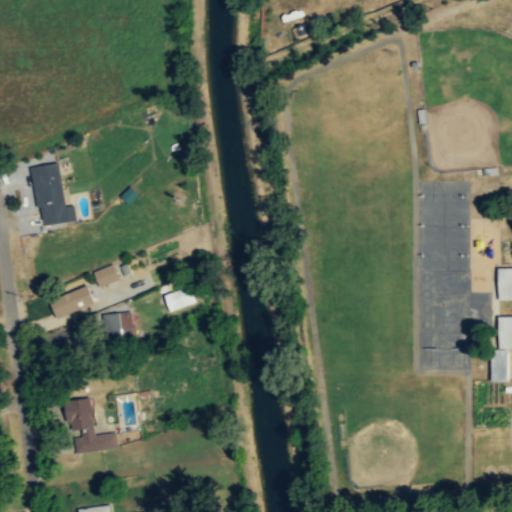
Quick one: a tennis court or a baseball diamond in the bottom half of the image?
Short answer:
baseball diamond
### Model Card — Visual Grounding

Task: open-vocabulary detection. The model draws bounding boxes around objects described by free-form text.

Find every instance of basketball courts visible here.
[420,182,470,212]
[420,211,470,240]
[420,240,470,270]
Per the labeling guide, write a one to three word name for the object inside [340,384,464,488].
baseball field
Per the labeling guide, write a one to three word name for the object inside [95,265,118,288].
building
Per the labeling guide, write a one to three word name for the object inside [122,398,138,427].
swimming pool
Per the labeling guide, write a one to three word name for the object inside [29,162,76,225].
house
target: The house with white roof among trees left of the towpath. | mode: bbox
[165,290,197,311]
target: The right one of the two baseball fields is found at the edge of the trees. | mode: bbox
[420,30,512,171]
